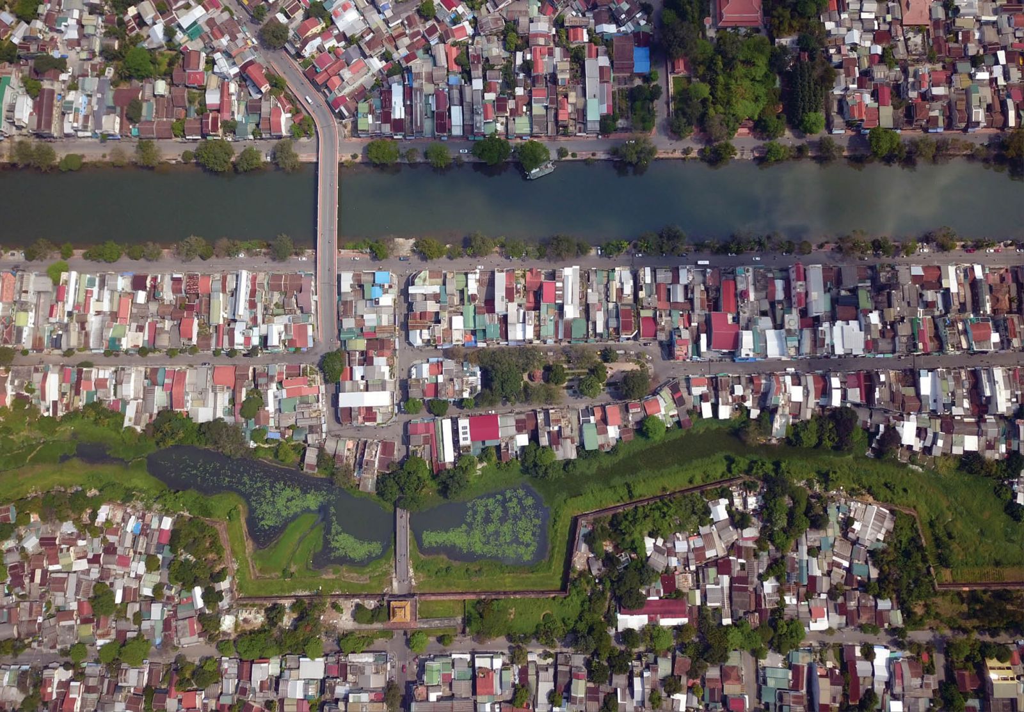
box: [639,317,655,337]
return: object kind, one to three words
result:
house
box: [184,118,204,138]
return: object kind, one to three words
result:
house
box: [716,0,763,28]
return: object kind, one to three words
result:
building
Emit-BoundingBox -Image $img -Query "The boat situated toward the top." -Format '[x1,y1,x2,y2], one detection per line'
[524,163,555,180]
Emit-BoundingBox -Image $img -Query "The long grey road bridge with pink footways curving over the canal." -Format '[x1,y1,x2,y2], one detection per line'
[264,41,338,345]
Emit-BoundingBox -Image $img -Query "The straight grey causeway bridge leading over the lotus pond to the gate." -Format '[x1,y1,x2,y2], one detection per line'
[393,496,411,591]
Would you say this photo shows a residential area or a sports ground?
residential area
